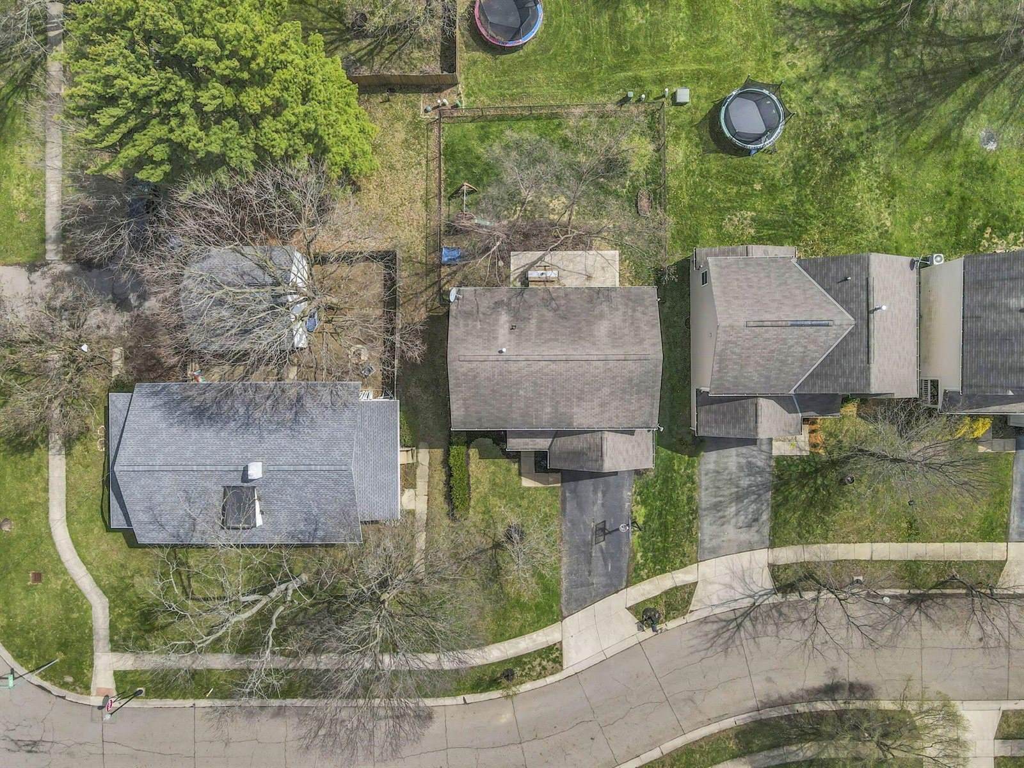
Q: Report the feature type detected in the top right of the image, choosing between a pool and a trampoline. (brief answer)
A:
trampoline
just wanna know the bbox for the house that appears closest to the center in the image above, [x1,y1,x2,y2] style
[447,286,665,472]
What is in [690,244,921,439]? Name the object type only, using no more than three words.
house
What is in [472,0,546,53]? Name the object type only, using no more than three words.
trampoline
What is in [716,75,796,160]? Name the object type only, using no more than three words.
trampoline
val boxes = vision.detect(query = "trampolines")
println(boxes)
[472,0,546,53]
[716,75,796,160]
